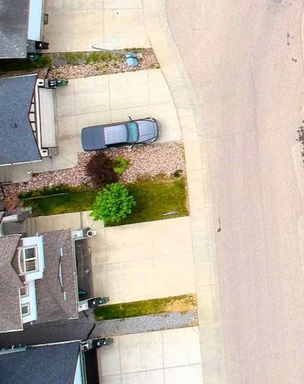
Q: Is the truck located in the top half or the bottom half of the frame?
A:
top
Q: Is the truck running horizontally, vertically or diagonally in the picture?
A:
horizontally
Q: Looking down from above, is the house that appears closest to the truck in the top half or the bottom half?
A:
top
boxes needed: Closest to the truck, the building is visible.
[0,72,59,172]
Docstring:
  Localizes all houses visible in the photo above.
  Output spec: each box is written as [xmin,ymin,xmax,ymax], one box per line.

[0,228,94,334]
[0,72,59,172]
[0,0,49,61]
[0,339,102,384]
